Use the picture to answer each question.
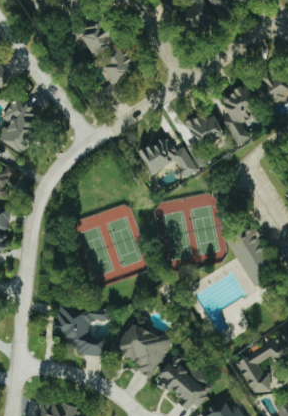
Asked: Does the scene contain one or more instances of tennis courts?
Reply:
Yes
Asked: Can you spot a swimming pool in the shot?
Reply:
Yes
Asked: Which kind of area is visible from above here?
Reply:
residential area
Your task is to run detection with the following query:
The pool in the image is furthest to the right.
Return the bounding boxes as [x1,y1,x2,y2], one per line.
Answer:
[274,102,288,116]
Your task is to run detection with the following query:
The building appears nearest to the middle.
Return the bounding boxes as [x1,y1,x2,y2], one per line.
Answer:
[136,145,200,178]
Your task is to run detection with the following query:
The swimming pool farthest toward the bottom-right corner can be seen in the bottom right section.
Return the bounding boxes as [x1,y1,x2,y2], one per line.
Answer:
[260,395,278,416]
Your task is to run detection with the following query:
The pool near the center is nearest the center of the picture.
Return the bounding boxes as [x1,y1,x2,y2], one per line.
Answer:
[158,168,180,186]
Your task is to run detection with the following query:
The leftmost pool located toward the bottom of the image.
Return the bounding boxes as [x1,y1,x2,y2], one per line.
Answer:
[90,324,109,338]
